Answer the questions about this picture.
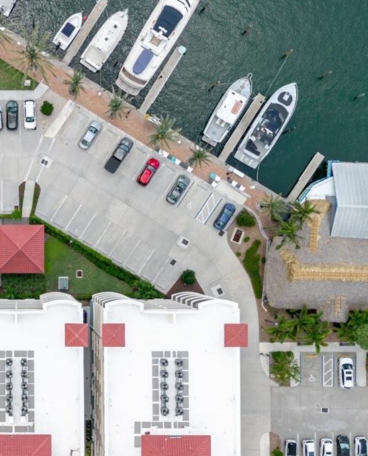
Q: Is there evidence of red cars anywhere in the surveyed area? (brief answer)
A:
Yes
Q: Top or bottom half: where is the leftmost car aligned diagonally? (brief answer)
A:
top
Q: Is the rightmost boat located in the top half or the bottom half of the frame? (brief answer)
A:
top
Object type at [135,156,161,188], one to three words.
car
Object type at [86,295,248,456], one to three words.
building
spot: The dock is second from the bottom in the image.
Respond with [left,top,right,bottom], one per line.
[219,92,266,162]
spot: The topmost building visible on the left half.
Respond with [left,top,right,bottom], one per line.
[0,224,45,274]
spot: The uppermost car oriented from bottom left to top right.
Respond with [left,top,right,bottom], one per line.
[78,118,103,151]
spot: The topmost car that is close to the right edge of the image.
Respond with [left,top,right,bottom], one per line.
[337,355,355,389]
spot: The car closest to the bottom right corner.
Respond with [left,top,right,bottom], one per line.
[352,435,368,456]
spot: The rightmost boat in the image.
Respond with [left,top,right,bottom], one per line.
[231,84,299,173]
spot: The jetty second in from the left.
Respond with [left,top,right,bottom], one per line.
[139,46,186,112]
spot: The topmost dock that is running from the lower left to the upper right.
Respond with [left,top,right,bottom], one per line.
[63,0,110,66]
